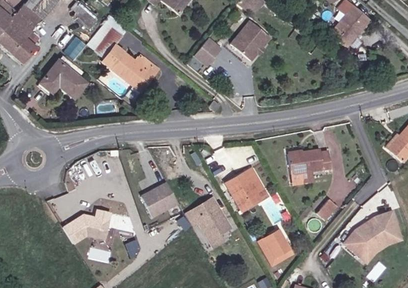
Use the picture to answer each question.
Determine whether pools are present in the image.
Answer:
Yes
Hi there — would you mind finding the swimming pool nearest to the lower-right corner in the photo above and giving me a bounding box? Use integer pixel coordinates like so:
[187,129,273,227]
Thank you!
[308,217,323,232]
